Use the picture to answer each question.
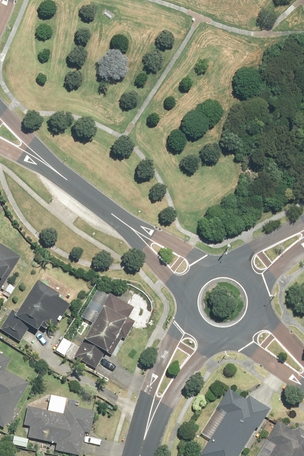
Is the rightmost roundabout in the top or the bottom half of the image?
bottom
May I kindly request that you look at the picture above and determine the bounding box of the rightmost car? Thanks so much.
[100,358,115,370]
